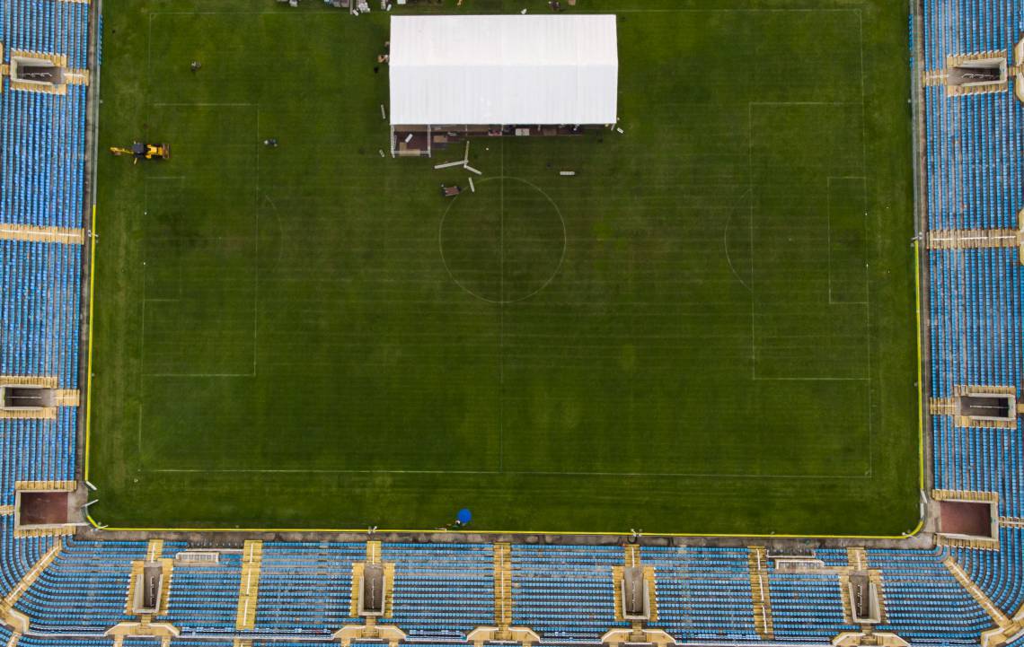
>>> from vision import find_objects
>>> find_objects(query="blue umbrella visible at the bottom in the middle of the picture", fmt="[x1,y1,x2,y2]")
[458,509,472,524]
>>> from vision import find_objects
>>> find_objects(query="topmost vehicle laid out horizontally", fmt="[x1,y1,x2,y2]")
[109,141,172,162]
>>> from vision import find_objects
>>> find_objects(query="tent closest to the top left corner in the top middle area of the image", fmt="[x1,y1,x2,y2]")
[388,14,618,136]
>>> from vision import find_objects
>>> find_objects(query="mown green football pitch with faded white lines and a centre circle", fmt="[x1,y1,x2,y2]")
[88,0,919,536]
